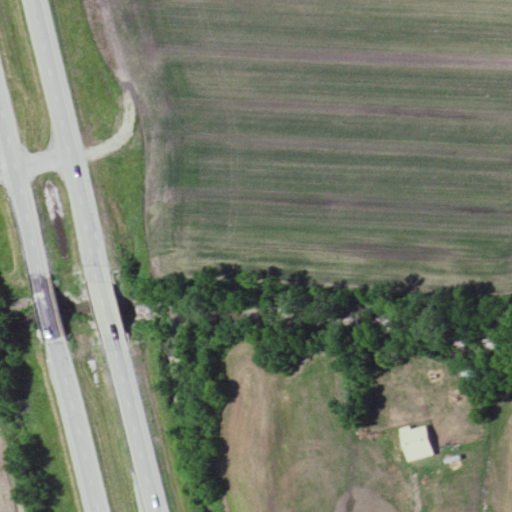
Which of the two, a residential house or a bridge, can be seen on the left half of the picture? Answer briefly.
bridge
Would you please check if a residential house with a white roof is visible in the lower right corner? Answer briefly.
Yes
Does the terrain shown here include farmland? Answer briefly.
Yes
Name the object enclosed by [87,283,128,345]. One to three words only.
bridge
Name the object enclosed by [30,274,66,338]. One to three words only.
bridge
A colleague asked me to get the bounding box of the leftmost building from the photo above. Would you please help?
[400,424,434,463]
